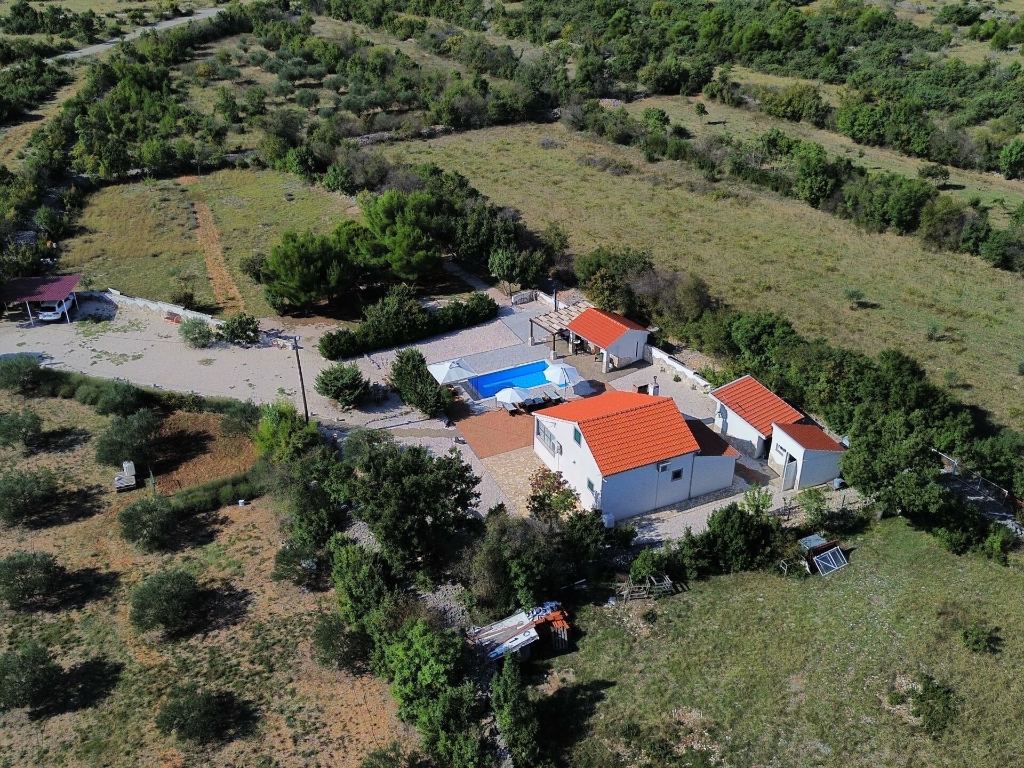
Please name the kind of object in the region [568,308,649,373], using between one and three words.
building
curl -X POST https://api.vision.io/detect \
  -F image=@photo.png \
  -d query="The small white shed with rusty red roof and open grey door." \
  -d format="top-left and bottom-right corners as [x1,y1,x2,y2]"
[767,423,848,493]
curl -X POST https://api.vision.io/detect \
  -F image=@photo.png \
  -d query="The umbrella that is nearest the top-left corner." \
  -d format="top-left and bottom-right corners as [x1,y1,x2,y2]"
[428,358,483,405]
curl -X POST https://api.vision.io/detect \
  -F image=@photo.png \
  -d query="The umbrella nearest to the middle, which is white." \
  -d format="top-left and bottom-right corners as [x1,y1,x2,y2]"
[488,385,532,416]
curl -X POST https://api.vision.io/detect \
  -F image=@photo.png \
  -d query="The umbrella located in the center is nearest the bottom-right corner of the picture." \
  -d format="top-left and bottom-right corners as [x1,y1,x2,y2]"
[542,365,582,405]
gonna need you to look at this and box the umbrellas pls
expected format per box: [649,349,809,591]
[488,385,532,416]
[542,365,582,405]
[428,358,483,405]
